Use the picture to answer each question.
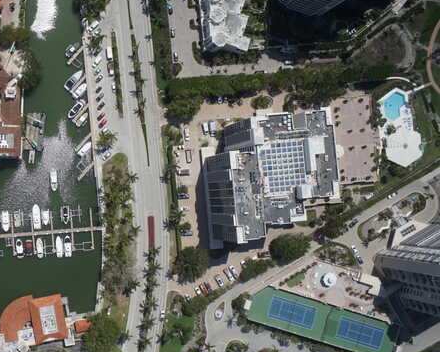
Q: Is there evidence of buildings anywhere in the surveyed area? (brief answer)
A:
Yes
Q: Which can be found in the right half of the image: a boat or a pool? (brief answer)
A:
pool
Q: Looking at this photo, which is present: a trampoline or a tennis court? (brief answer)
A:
tennis court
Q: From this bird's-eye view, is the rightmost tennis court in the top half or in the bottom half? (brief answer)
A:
bottom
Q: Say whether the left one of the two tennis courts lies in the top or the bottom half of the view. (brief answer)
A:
bottom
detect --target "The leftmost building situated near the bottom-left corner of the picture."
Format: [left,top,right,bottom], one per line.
[0,294,68,352]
